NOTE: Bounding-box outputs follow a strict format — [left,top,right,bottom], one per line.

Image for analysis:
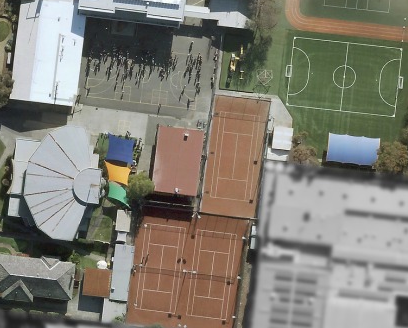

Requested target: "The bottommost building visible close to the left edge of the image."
[0,252,75,306]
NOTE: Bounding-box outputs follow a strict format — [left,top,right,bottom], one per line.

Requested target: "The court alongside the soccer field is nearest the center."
[202,96,270,216]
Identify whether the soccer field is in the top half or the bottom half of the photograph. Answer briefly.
top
